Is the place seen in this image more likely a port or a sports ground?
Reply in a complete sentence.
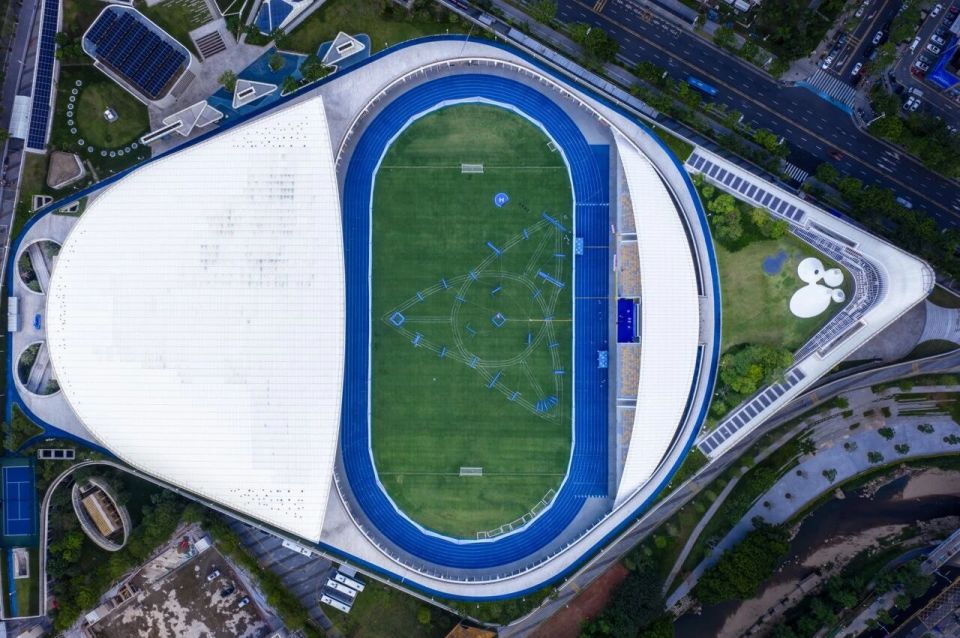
What you see here is a sports ground.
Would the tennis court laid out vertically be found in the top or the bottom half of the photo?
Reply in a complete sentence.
The tennis court laid out vertically is in the bottom half of the image.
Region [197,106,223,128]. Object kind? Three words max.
building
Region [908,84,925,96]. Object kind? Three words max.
vehicle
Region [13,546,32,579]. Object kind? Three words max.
building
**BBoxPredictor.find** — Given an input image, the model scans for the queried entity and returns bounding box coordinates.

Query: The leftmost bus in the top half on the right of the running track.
[684,76,719,100]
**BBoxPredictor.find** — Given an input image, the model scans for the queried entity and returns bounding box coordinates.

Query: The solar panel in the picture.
[27,0,58,149]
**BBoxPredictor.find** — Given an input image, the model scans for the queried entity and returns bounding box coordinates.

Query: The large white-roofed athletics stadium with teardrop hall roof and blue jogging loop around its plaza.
[5,33,724,603]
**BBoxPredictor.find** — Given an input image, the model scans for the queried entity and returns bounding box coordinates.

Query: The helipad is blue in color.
[494,192,509,207]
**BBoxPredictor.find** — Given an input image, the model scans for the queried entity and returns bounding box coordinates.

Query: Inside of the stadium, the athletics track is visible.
[345,75,609,568]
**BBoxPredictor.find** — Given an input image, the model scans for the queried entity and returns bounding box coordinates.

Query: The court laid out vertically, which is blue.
[0,457,40,550]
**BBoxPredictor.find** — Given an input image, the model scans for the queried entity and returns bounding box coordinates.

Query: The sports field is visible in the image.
[368,96,576,543]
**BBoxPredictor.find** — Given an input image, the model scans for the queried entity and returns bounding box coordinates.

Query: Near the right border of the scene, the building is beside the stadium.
[682,146,938,460]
